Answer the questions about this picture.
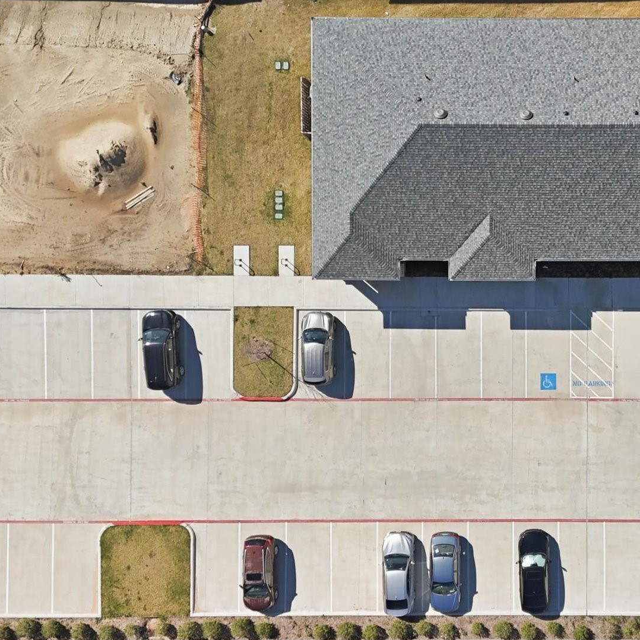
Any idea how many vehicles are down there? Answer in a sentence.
The photo contains 6 vehicles.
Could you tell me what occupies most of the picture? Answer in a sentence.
For the most part, this view shows paved ground.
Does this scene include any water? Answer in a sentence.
No, there is no water in the image.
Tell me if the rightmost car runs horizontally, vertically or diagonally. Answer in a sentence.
I'd say the rightmost car is aligned vertically in the picture.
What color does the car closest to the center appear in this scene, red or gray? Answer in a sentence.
In this view, the car closest to the center is gray.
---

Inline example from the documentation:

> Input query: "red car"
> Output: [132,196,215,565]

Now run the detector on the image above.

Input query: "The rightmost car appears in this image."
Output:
[514,527,551,614]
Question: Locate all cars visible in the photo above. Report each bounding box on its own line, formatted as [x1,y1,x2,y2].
[137,310,184,389]
[514,527,551,614]
[379,530,417,615]
[297,311,336,386]
[237,533,278,609]
[426,531,462,612]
